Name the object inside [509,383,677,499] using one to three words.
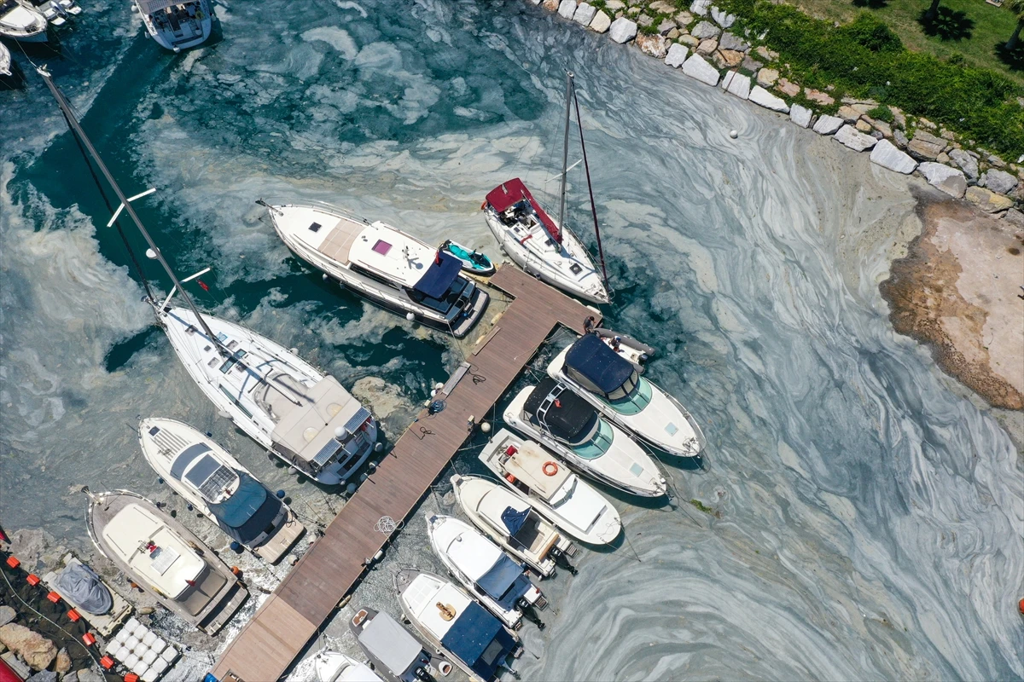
boat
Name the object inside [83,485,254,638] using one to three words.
boat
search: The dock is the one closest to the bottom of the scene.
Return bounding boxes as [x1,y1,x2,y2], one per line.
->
[104,616,181,682]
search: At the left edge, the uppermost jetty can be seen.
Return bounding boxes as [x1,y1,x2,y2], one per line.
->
[47,543,134,646]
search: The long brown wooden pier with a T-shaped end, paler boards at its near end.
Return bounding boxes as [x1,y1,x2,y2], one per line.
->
[207,261,603,682]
